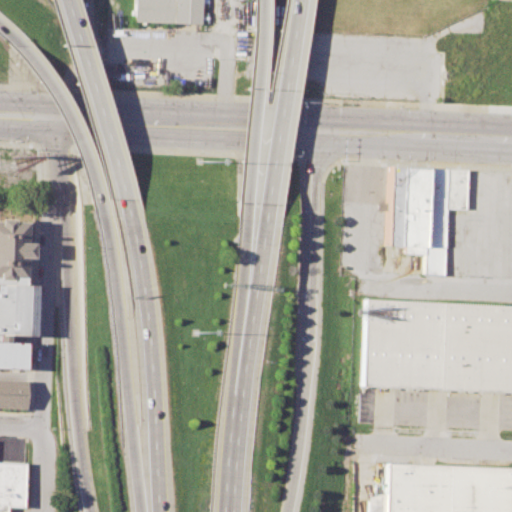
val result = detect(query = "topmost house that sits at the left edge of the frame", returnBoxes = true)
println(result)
[0,220,40,284]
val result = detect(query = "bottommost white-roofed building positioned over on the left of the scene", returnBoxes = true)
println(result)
[0,462,29,508]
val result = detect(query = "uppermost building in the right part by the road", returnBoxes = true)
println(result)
[394,168,470,276]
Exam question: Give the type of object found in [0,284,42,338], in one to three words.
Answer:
building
